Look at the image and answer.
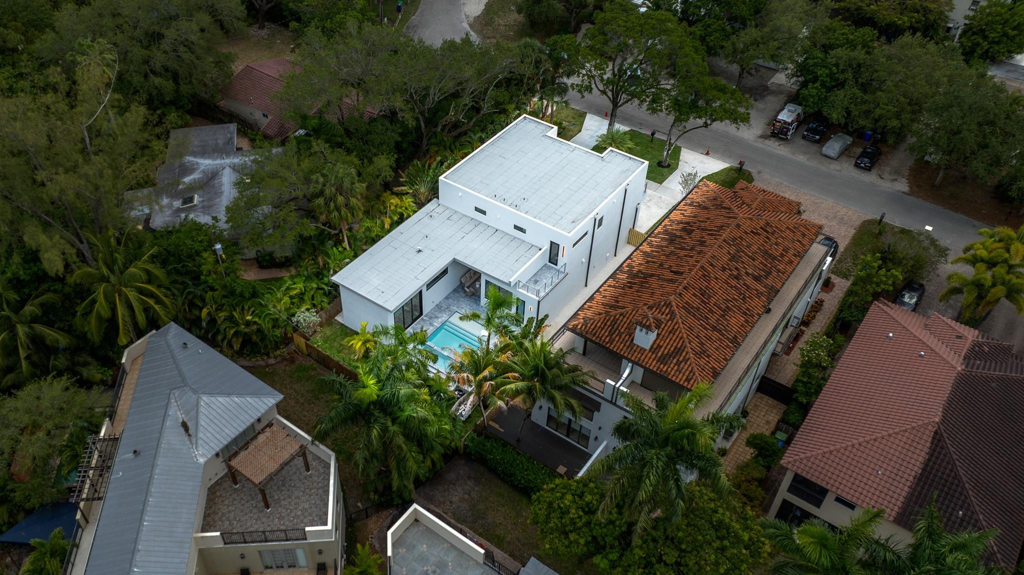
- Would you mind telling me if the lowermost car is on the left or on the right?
right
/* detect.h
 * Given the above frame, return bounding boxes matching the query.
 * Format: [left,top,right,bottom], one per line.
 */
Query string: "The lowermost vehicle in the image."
[893,278,927,315]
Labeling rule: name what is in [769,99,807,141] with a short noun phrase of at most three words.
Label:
van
